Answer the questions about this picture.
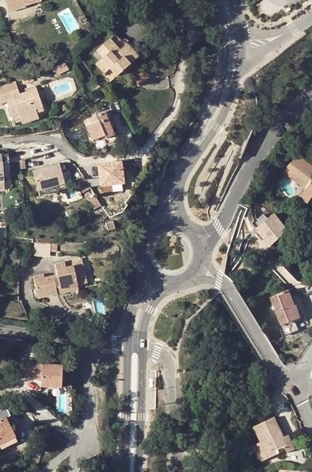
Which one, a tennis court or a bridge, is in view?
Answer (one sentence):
This aerial view contains a bridge.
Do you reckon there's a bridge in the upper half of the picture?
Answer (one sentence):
No, there's no bridge to be seen in the upper half of the picture.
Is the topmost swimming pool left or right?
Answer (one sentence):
It is on the left.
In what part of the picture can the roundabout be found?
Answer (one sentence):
The roundabout sits in the center section of the image.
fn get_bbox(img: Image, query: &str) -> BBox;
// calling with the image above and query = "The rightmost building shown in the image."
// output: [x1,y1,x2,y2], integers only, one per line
[286,158,312,203]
